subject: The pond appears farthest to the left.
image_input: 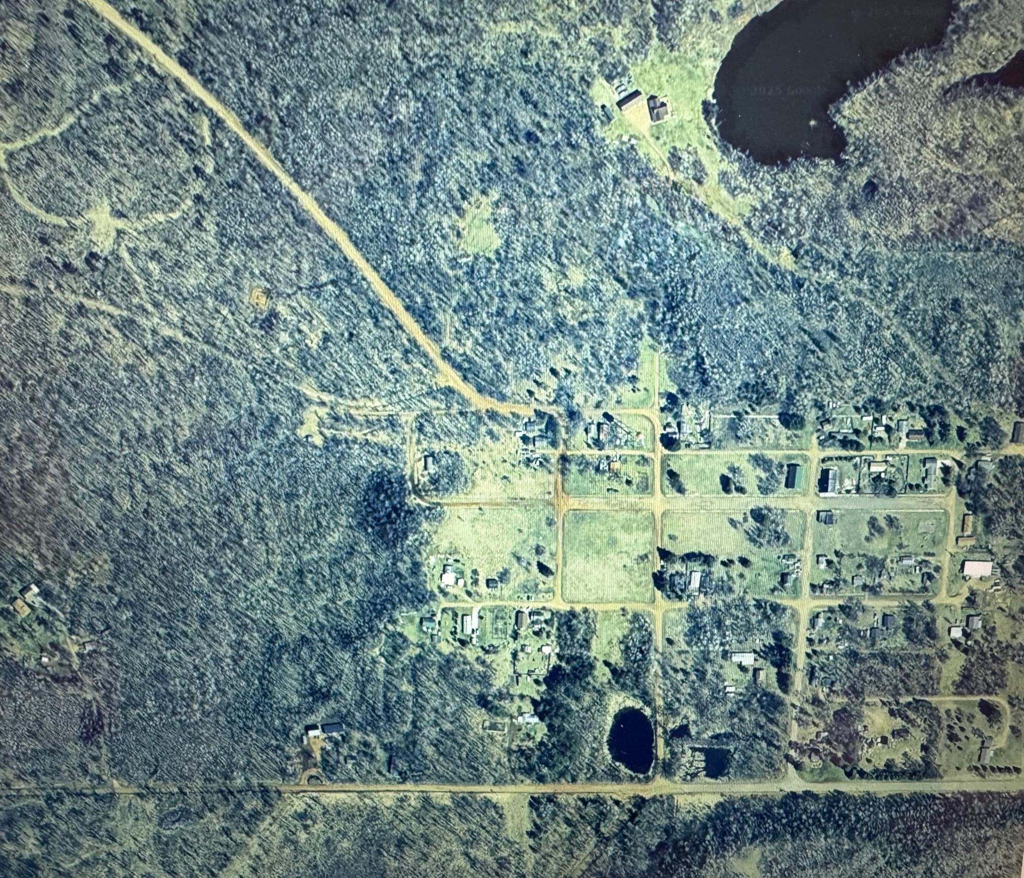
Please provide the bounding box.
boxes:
[607,706,655,773]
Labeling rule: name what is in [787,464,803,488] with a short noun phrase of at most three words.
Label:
barn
